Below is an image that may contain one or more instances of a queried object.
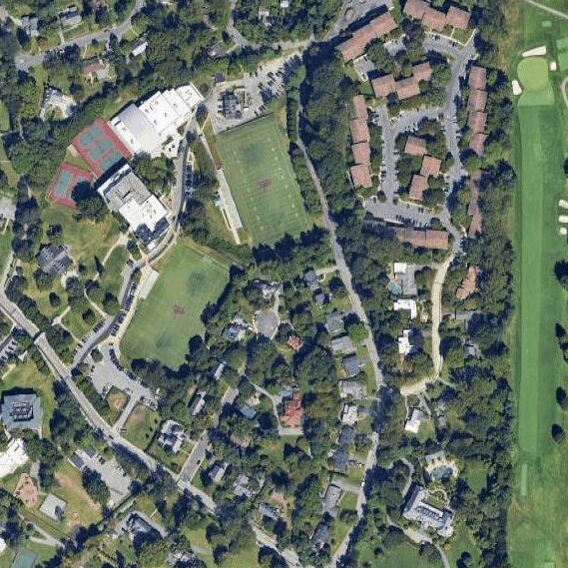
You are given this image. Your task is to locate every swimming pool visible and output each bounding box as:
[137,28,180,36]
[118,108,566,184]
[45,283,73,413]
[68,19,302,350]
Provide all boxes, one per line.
[387,280,402,296]
[431,467,454,479]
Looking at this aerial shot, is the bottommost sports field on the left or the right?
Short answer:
left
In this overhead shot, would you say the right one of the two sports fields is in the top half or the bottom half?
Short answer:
top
